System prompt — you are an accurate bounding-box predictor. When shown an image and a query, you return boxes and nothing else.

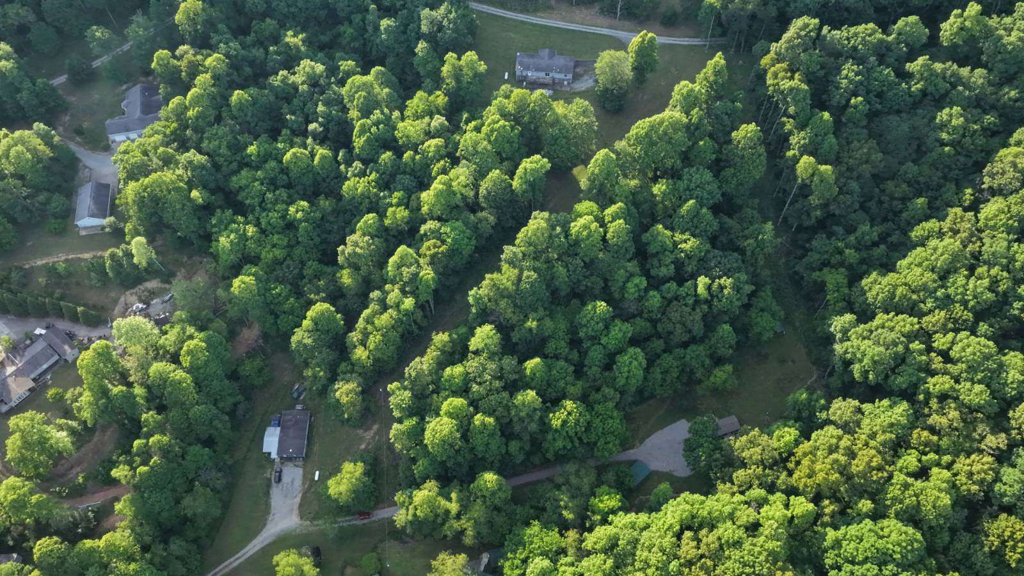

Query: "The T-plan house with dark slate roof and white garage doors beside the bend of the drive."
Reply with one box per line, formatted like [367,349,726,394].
[103,78,164,133]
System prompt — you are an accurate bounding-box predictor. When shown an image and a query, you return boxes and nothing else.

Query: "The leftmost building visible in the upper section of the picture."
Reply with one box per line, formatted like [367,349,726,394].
[71,181,114,236]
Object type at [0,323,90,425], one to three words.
house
